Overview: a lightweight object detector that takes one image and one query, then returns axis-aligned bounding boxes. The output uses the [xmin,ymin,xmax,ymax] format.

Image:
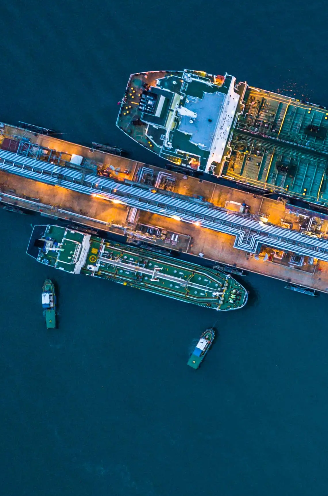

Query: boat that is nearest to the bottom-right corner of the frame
[186,327,216,369]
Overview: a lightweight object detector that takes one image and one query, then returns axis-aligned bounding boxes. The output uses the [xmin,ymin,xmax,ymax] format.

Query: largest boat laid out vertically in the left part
[39,279,58,329]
